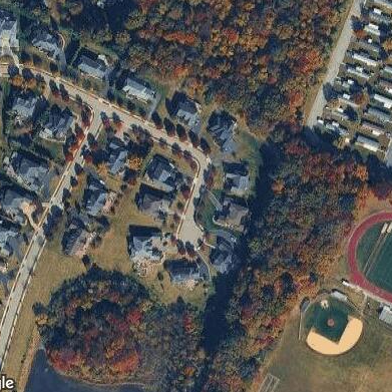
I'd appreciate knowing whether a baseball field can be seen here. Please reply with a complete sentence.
Yes, the image includes a baseball field.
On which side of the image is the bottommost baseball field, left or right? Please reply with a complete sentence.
It is on the right.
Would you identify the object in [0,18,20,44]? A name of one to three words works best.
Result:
house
